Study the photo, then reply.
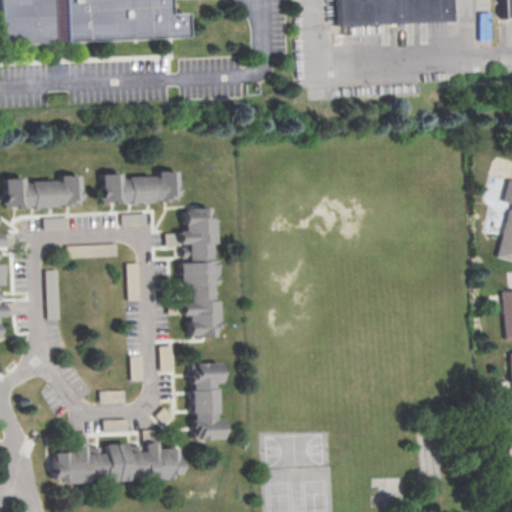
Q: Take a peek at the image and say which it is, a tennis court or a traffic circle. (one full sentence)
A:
This aerial view contains a tennis court.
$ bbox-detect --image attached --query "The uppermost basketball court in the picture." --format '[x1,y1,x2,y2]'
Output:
[259,432,329,468]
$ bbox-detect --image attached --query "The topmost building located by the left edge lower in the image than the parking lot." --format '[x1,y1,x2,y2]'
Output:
[6,175,87,210]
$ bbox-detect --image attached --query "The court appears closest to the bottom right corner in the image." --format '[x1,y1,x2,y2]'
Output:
[294,466,331,512]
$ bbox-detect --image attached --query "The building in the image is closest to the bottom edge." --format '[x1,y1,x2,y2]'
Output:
[56,442,189,484]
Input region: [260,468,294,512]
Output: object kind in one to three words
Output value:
tennis court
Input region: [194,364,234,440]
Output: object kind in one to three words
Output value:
building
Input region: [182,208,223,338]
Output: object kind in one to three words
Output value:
building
